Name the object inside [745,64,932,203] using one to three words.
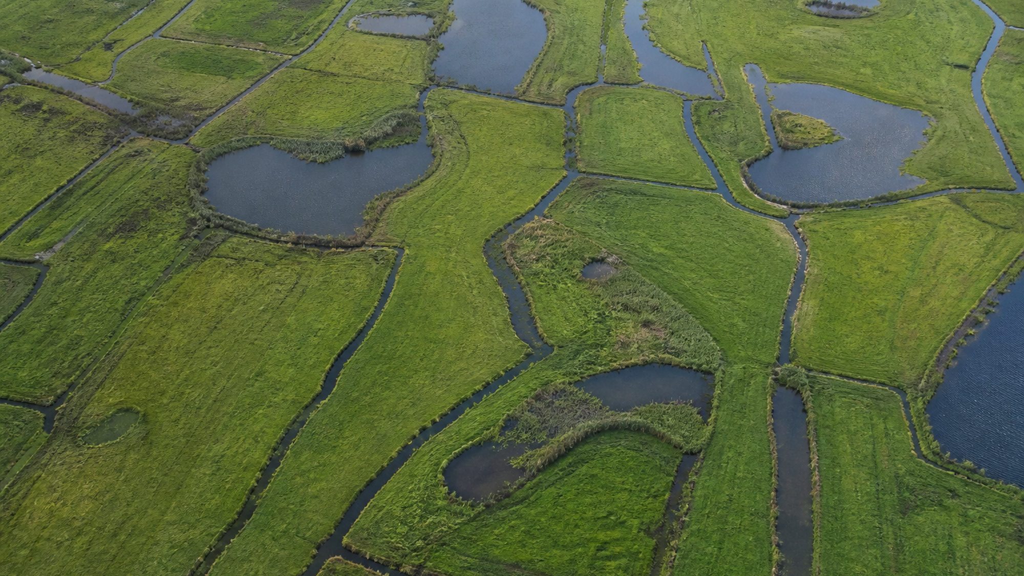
pond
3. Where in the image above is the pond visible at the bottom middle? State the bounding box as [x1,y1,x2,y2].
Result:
[444,363,715,501]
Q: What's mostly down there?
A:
grass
